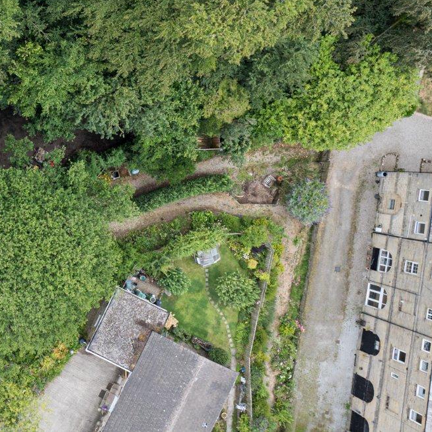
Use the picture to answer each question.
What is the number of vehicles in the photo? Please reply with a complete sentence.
No vehicles are visible.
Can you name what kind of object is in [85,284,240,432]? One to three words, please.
house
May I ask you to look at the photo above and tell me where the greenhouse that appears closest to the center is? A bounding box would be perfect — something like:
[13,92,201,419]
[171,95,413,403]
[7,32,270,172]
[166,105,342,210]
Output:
[191,245,220,268]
